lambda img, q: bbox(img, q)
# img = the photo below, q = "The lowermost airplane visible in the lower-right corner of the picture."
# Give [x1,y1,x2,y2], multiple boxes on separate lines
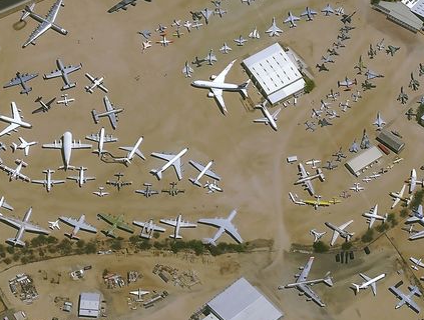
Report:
[389,286,420,312]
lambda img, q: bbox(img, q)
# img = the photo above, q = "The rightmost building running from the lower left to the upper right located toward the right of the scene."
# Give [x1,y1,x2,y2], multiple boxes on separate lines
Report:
[348,147,382,175]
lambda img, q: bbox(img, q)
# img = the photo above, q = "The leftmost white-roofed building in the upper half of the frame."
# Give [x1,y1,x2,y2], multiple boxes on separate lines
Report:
[243,43,305,108]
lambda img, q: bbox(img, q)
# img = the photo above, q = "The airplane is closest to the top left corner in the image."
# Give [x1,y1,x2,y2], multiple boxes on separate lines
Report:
[21,0,68,46]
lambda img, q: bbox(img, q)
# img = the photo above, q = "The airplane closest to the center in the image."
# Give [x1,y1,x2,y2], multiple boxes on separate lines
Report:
[188,159,220,188]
